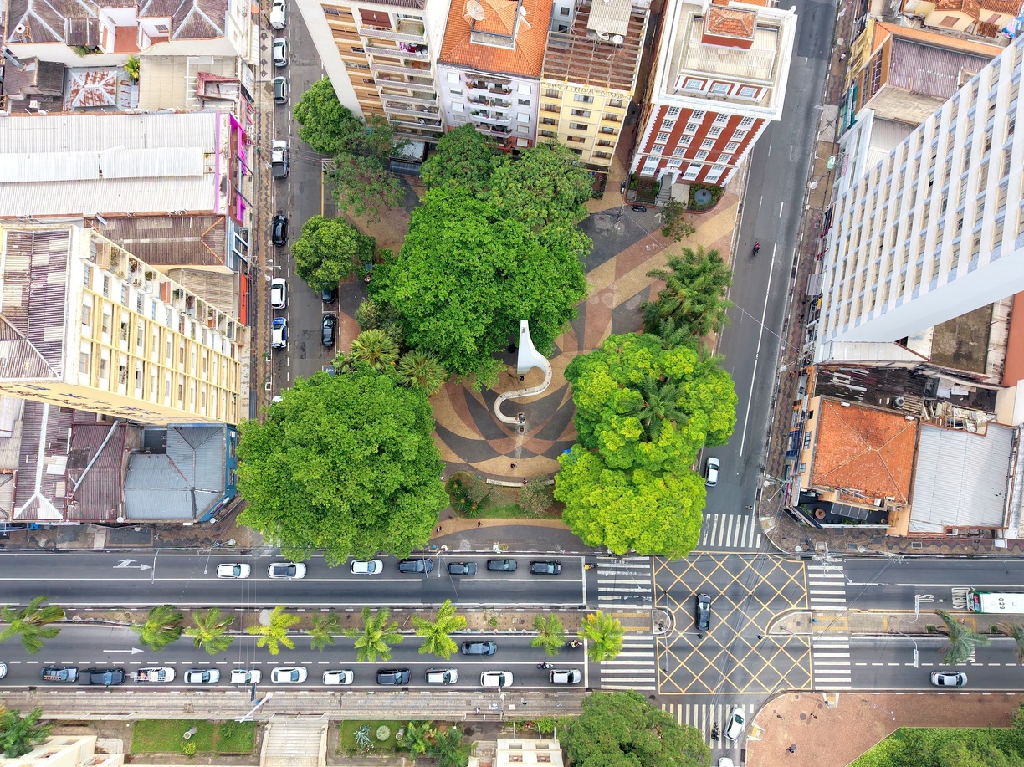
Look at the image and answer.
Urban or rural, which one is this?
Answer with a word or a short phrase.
urban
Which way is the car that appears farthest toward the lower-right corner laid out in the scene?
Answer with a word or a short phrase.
from side to side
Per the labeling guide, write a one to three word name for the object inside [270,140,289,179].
vehicle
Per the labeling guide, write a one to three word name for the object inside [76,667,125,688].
truck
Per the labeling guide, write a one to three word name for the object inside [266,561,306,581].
car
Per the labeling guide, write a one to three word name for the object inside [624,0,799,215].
building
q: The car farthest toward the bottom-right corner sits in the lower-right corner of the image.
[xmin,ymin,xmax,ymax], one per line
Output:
[928,670,968,690]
